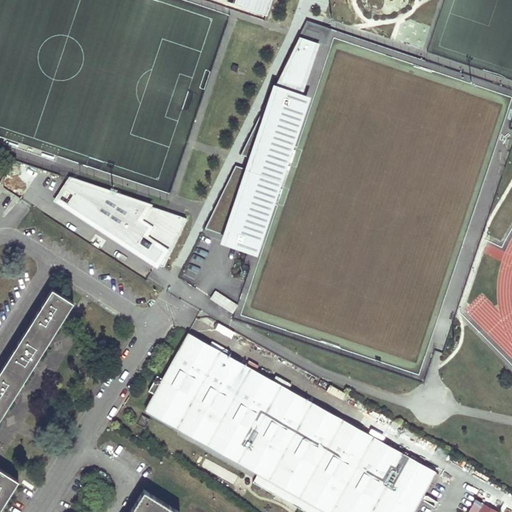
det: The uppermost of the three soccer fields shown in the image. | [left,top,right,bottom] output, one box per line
[422,0,512,80]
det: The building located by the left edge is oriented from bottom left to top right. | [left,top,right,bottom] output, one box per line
[0,293,74,418]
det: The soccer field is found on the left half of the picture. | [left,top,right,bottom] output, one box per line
[0,0,230,193]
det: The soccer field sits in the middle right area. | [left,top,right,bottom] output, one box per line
[241,38,510,374]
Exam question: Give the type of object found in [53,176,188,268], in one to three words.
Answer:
building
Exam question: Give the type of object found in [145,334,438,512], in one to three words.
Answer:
warehouse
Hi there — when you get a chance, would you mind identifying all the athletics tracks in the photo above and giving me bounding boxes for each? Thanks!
[468,232,512,357]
